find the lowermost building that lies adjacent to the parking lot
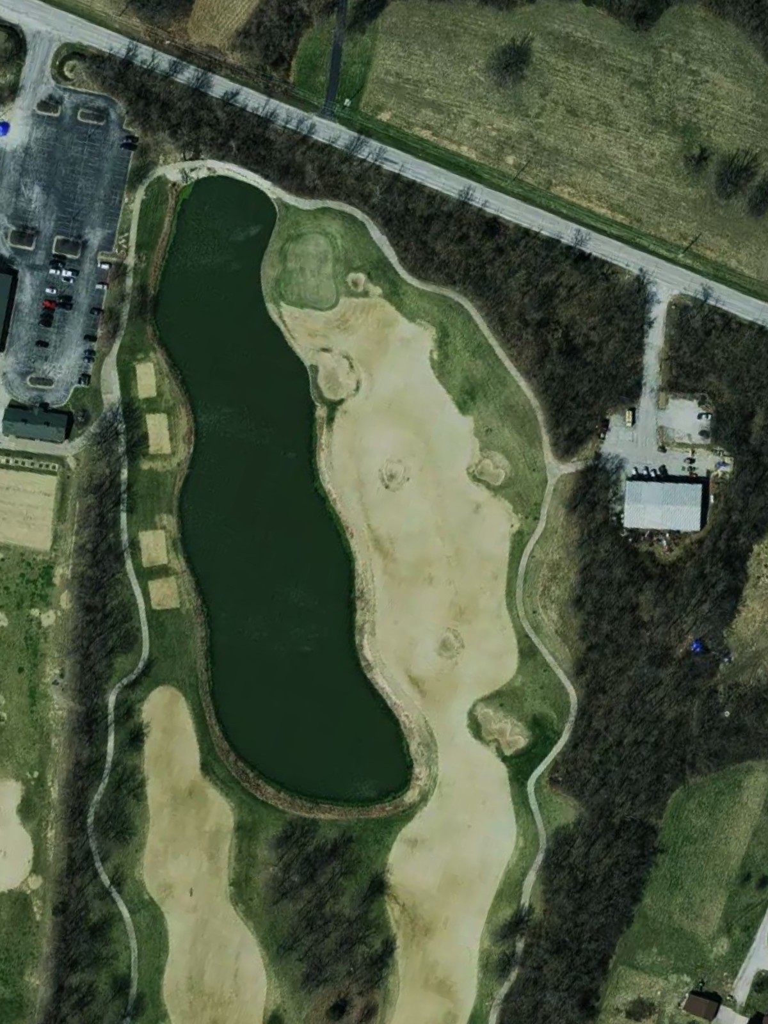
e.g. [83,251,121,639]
[1,404,68,443]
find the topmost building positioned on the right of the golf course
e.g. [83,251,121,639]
[624,481,703,532]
